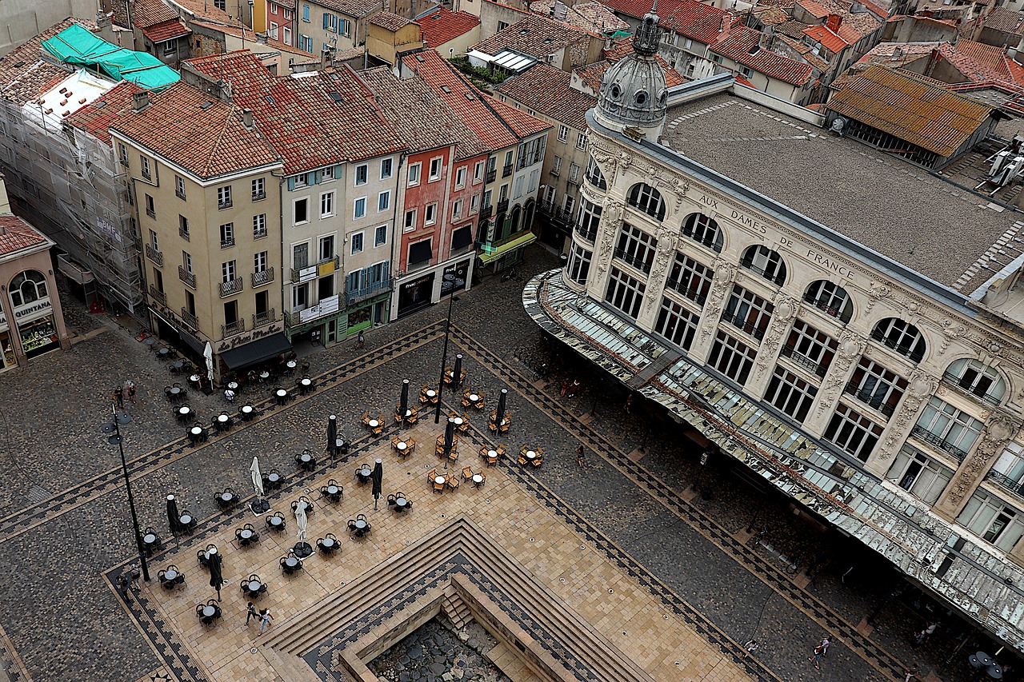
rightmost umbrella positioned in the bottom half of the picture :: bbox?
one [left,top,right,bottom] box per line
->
[495,390,507,436]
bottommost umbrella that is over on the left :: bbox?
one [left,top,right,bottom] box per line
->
[210,548,224,603]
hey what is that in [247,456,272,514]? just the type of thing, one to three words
umbrella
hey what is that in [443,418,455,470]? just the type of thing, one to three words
umbrella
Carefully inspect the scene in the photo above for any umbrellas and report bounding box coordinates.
[443,418,455,470]
[399,379,410,430]
[495,390,507,436]
[371,459,382,512]
[452,350,462,392]
[166,495,180,550]
[210,548,224,603]
[201,341,224,396]
[247,456,272,514]
[291,499,314,559]
[327,416,338,468]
